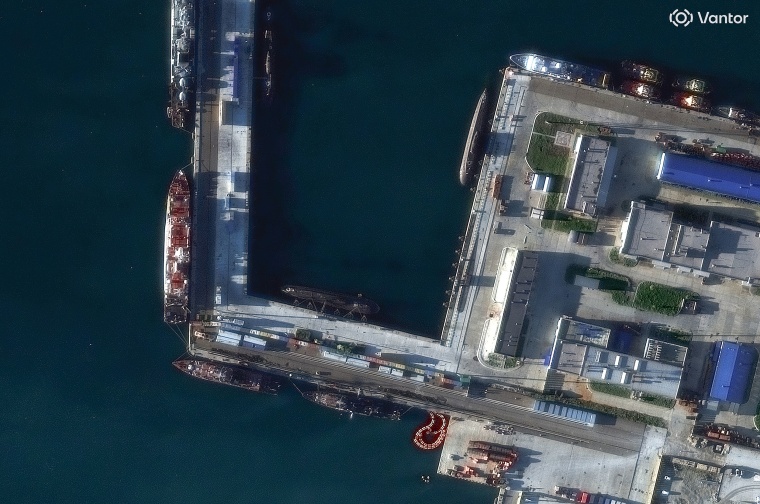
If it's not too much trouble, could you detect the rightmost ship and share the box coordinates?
[716,105,760,125]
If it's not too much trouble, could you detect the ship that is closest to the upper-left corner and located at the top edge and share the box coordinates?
[166,0,197,129]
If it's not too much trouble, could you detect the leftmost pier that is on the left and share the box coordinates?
[189,0,255,312]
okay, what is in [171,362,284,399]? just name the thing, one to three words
ship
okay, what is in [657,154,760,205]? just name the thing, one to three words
building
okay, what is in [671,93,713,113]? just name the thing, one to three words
boat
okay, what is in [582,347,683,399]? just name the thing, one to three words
building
